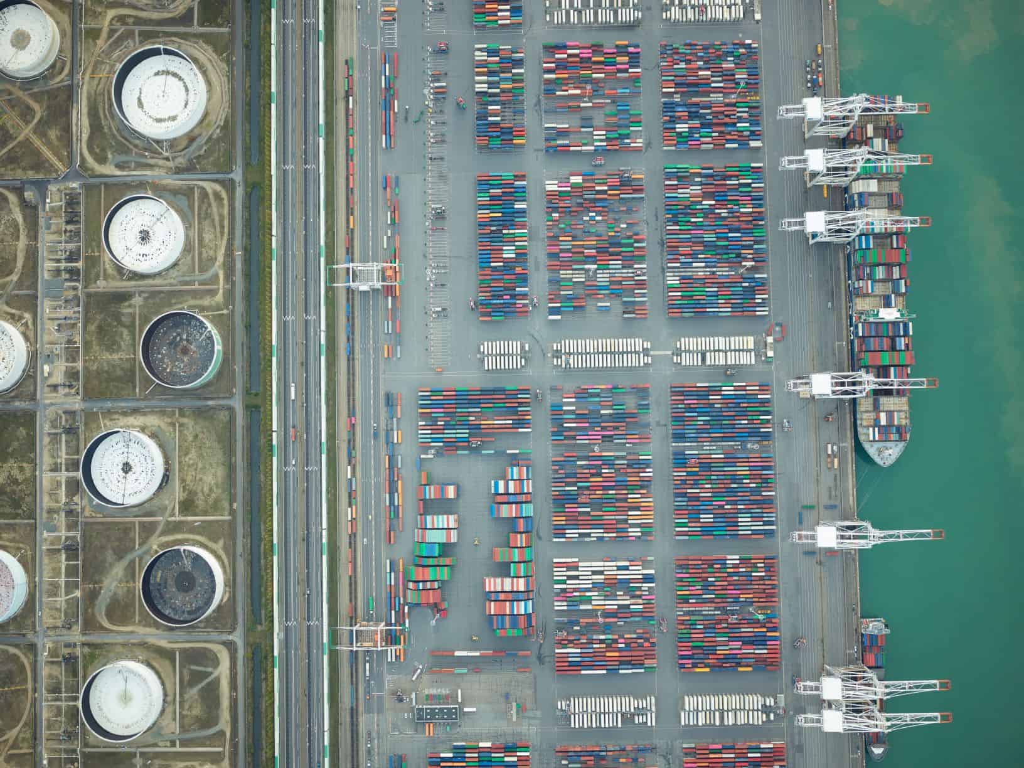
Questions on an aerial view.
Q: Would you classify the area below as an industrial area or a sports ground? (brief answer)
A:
industrial area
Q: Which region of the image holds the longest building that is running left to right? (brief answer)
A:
bottom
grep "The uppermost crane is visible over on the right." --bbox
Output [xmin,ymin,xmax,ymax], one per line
[775,95,929,141]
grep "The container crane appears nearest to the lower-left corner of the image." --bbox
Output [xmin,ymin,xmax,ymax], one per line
[332,619,412,651]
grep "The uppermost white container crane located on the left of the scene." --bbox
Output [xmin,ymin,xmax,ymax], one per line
[326,262,403,292]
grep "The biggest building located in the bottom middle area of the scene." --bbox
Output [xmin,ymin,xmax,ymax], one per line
[416,703,460,723]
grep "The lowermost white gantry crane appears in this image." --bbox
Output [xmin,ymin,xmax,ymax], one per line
[795,693,955,733]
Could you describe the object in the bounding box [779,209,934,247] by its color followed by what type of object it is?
white container crane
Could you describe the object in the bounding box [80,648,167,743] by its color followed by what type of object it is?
white storage tank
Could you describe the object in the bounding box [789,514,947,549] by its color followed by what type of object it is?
white container crane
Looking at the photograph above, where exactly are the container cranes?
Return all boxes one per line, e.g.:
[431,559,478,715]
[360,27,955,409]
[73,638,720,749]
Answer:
[794,657,953,700]
[332,619,412,651]
[789,514,947,549]
[777,147,931,188]
[326,262,403,292]
[779,209,934,247]
[795,693,955,733]
[784,371,941,402]
[775,95,929,141]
